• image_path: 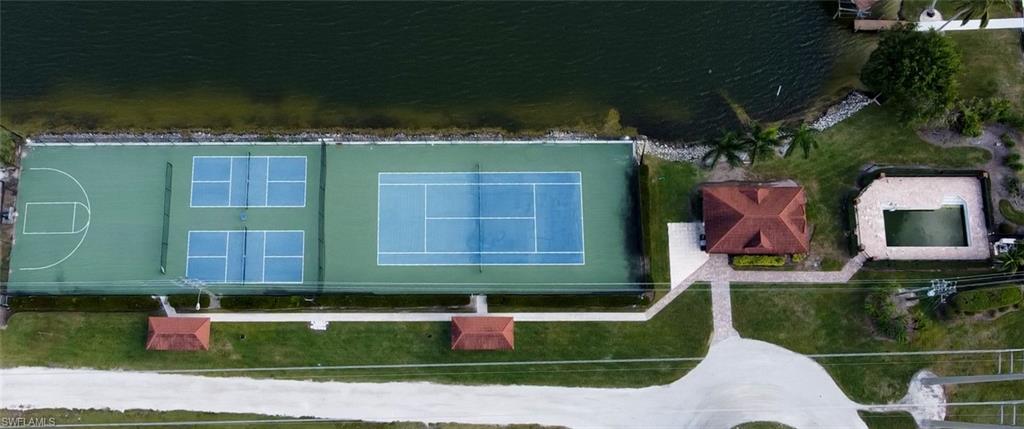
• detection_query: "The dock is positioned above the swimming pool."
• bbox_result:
[854,19,904,33]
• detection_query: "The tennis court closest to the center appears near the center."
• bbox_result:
[378,172,584,265]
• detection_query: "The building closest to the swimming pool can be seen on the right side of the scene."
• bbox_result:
[697,183,810,252]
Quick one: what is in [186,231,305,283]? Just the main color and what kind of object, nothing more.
blue sports court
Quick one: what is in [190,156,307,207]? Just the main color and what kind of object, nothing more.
blue sports court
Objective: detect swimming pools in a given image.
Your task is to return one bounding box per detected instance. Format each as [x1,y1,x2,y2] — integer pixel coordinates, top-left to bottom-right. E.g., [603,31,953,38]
[860,177,990,259]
